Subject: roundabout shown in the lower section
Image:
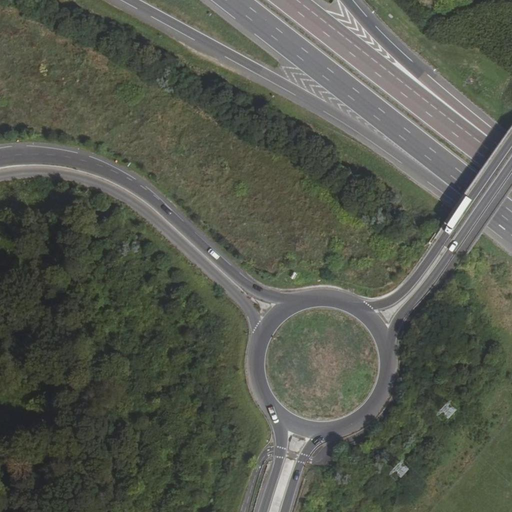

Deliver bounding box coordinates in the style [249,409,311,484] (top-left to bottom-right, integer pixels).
[246,282,398,440]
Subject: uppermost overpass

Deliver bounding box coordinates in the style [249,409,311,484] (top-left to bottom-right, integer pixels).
[443,124,512,253]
